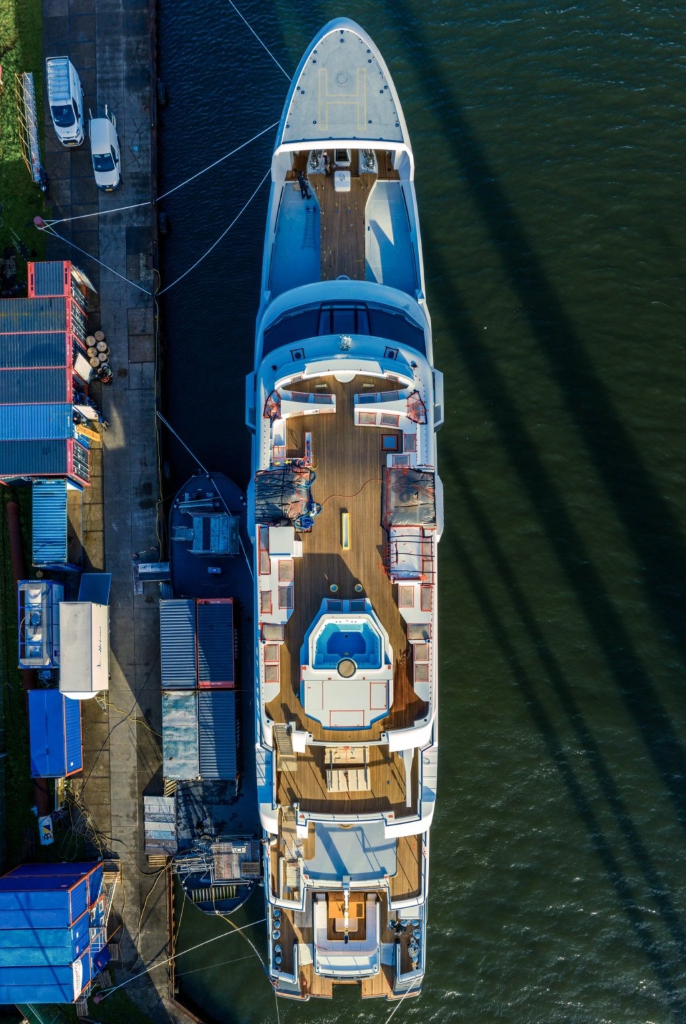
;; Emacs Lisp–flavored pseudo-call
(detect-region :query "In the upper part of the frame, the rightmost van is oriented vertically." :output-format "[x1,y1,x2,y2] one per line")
[85,98,125,188]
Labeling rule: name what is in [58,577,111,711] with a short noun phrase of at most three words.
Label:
trailer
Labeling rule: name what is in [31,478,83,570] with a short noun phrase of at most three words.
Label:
shipping container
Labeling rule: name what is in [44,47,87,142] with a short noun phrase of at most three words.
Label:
van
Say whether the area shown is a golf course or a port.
port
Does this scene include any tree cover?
No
